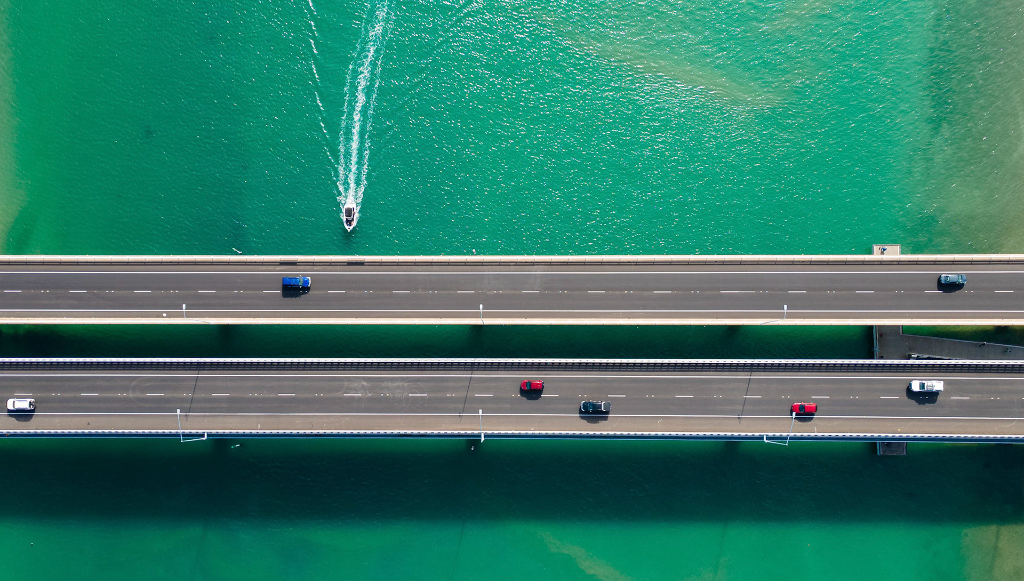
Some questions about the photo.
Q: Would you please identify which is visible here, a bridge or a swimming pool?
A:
bridge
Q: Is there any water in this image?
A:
Yes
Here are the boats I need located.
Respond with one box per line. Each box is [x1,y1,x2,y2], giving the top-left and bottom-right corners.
[343,200,355,233]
